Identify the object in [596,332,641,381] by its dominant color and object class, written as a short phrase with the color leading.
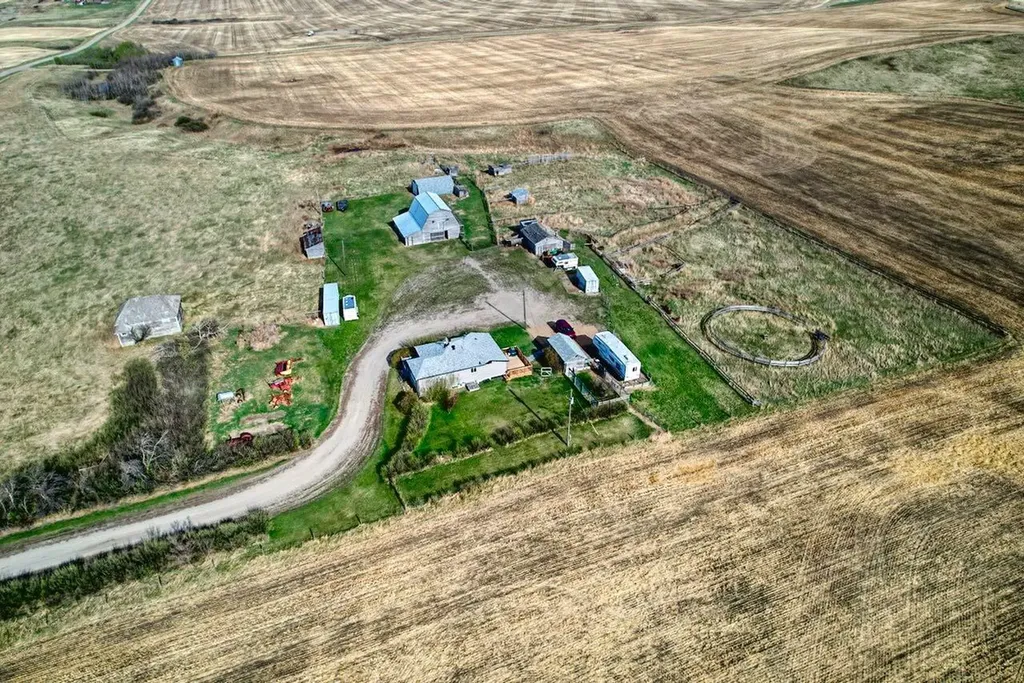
white trailer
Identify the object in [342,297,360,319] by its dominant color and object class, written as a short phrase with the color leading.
white vehicle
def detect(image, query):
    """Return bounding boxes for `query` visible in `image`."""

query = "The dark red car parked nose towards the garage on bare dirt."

[548,319,575,335]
